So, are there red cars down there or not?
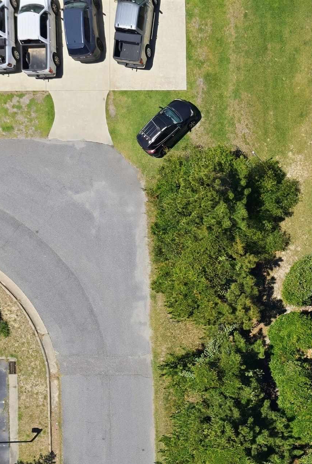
No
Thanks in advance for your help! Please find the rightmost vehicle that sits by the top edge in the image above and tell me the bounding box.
[117,0,163,67]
